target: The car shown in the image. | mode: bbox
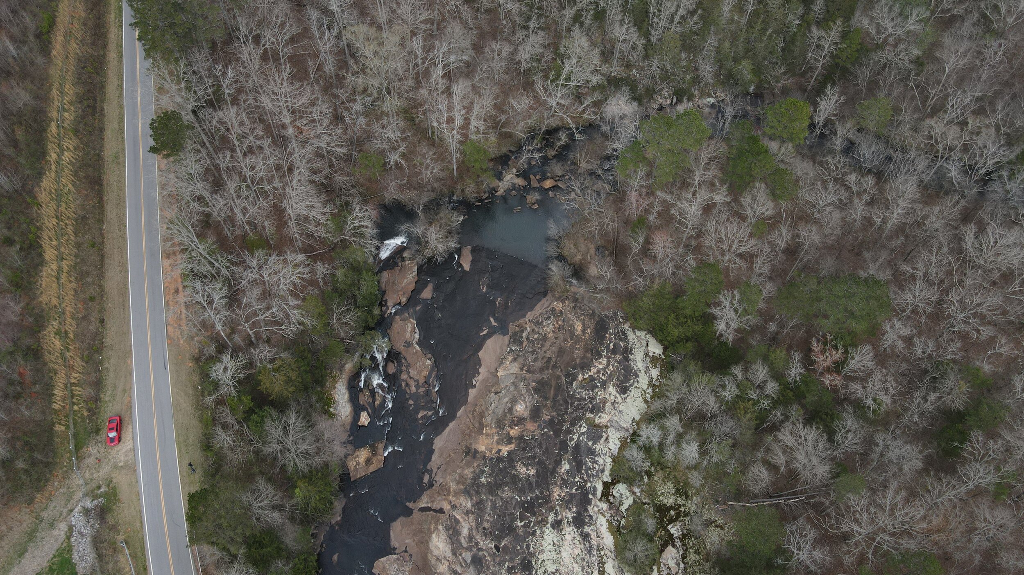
[105,416,123,447]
